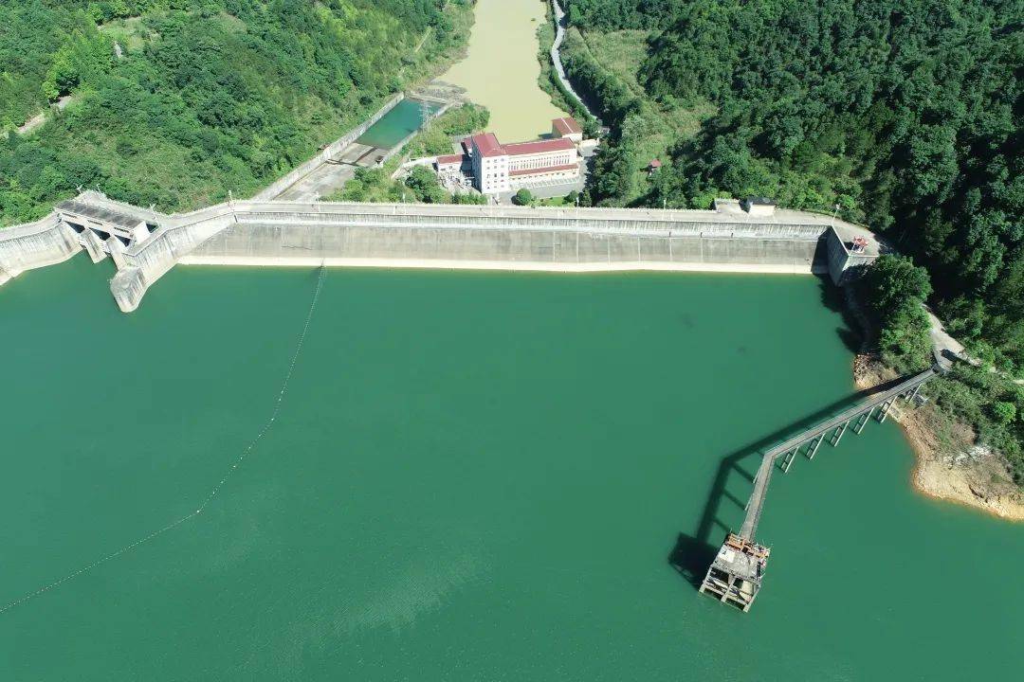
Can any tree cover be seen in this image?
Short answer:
Yes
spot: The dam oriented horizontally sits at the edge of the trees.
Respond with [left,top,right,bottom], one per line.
[0,187,882,311]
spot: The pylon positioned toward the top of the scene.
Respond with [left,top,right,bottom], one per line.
[414,94,429,133]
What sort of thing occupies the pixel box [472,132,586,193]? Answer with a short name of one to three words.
building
